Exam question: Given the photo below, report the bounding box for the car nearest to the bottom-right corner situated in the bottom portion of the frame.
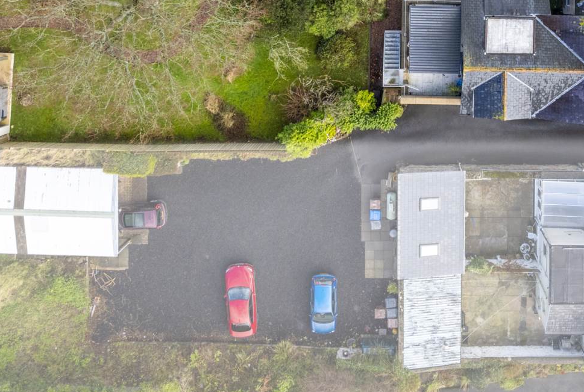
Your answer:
[307,272,339,332]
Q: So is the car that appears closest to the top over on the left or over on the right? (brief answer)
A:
left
